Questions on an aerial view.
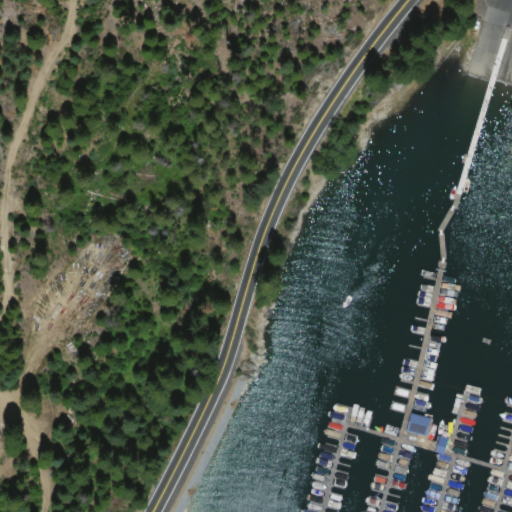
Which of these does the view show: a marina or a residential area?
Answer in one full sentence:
This looks like a marina.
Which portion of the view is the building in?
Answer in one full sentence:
Look in the bottom right portion of the view to spot the building.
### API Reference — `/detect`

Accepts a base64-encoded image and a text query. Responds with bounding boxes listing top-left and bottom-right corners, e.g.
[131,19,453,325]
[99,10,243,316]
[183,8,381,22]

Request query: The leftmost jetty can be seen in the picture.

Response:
[310,406,355,512]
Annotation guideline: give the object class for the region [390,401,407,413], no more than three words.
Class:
boat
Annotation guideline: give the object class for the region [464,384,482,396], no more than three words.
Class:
boat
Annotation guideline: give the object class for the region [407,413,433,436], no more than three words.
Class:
building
